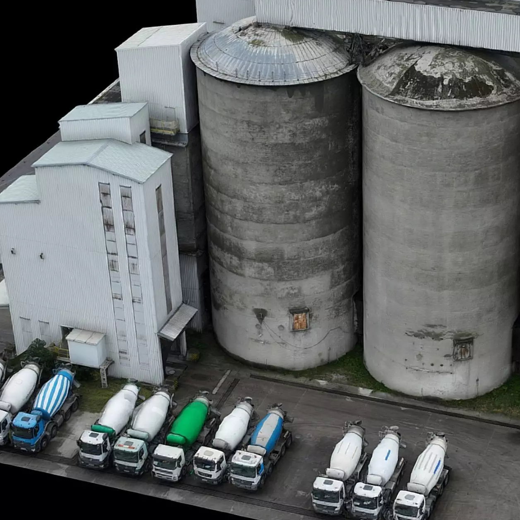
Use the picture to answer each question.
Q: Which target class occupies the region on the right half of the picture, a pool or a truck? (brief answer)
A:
truck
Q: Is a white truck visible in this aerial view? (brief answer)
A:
Yes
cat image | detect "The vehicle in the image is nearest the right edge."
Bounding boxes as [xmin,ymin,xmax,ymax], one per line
[392,435,450,520]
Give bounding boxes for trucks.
[310,421,369,517]
[193,394,259,487]
[0,361,46,449]
[152,391,216,483]
[392,435,450,520]
[113,387,178,478]
[350,426,406,520]
[76,380,145,471]
[11,366,82,454]
[231,398,292,491]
